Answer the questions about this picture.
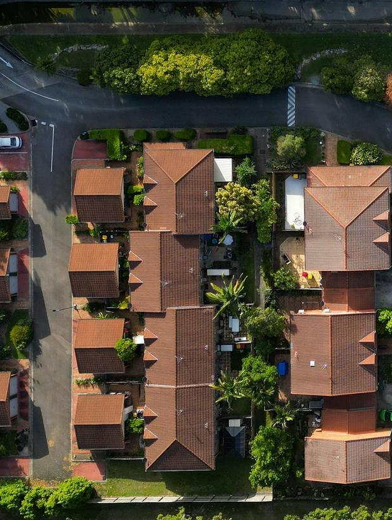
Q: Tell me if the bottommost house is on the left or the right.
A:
right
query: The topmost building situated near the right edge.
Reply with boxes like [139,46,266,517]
[300,186,391,273]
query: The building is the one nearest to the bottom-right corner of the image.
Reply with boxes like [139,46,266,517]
[304,429,392,485]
